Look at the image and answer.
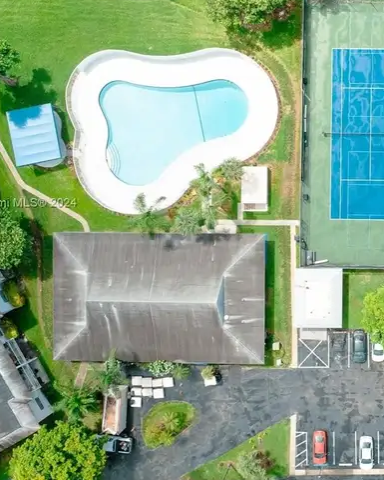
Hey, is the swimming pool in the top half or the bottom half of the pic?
top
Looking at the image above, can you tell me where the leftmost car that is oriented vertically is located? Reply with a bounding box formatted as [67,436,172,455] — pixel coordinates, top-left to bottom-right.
[312,429,328,465]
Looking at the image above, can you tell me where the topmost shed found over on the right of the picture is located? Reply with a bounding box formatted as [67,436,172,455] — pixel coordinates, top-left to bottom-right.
[240,167,269,211]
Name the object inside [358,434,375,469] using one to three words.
car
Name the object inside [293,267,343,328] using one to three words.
shed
